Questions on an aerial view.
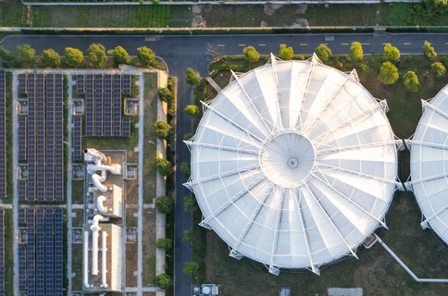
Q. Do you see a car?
No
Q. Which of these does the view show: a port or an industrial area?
industrial area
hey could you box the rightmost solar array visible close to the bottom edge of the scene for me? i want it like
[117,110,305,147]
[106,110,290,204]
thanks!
[18,208,64,296]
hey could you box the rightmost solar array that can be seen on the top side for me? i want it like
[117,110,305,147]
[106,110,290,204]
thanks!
[74,74,131,160]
